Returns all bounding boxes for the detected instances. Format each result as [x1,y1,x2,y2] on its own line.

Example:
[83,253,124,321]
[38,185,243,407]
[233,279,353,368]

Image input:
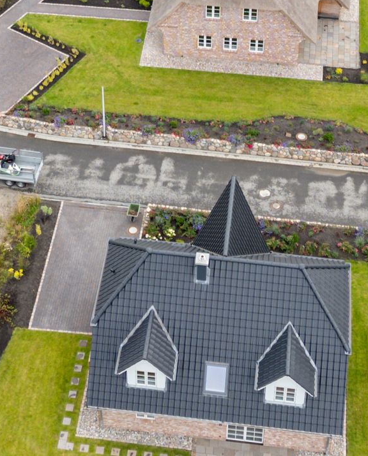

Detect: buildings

[146,0,349,63]
[85,174,349,456]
